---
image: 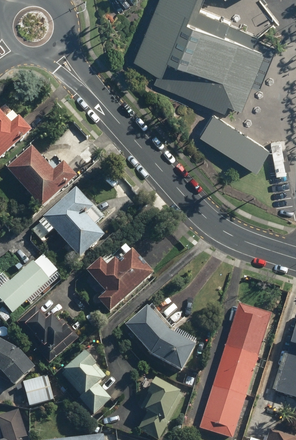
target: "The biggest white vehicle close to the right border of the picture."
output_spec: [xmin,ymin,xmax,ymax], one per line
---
[271,140,286,180]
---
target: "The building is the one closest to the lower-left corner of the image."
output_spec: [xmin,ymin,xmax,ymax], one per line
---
[0,410,26,440]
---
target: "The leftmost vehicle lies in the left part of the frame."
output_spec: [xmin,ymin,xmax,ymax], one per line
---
[16,248,29,262]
